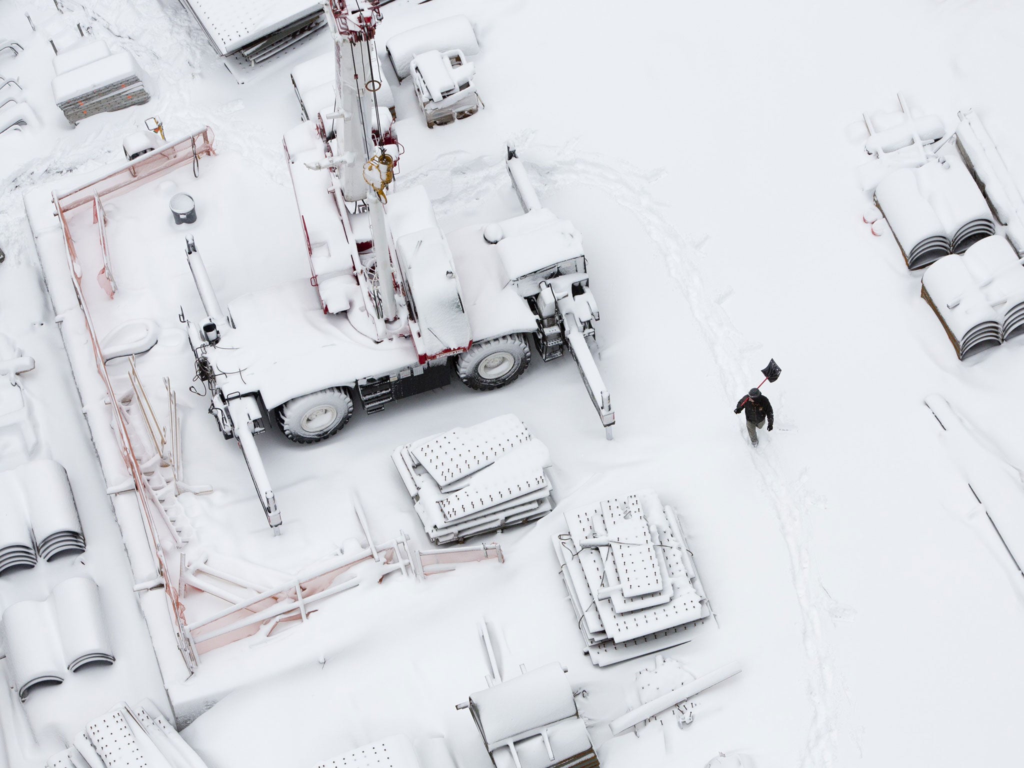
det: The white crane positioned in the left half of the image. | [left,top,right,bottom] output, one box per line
[179,0,617,546]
